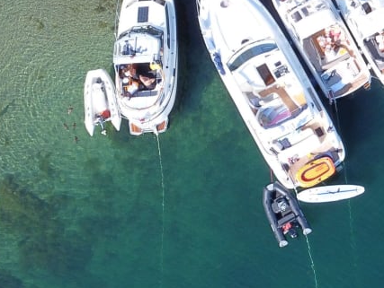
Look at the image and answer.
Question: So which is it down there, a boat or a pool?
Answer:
boat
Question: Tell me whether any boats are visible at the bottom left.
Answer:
No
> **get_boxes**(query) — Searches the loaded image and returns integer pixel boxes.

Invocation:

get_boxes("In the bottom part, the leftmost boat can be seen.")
[265,183,306,244]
